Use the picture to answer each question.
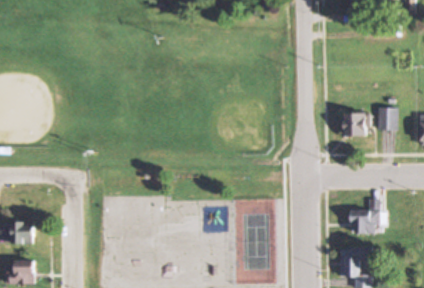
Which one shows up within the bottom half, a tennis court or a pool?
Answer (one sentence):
What appears within the bottom half is a tennis court.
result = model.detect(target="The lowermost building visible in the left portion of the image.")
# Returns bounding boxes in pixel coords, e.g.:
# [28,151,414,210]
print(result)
[0,261,37,286]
